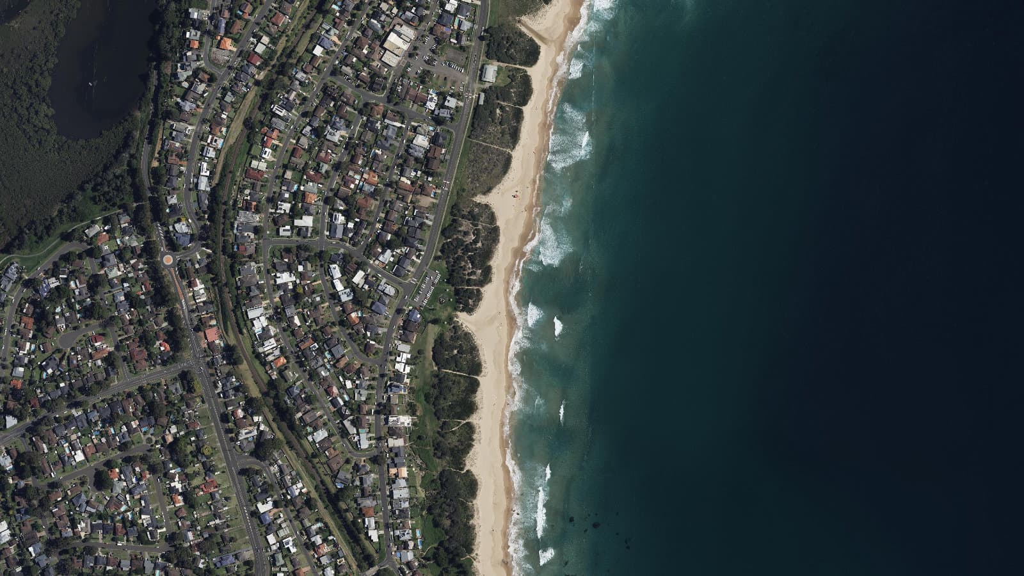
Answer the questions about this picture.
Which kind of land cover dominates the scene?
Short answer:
water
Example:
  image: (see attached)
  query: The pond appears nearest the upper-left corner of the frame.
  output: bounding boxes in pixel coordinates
[50,0,155,139]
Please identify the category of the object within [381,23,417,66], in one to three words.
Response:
building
